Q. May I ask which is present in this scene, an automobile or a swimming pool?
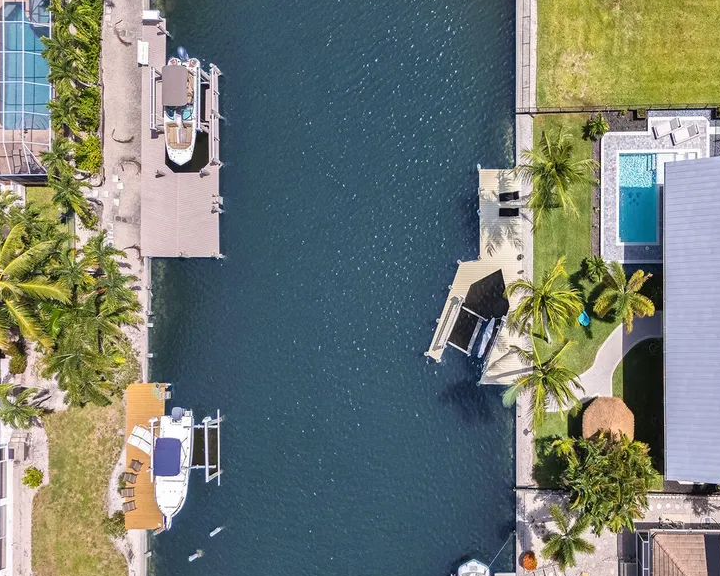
swimming pool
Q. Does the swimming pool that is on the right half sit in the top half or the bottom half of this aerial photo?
top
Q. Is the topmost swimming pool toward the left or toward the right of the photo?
left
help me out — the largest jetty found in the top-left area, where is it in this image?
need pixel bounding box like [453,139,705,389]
[141,18,225,258]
